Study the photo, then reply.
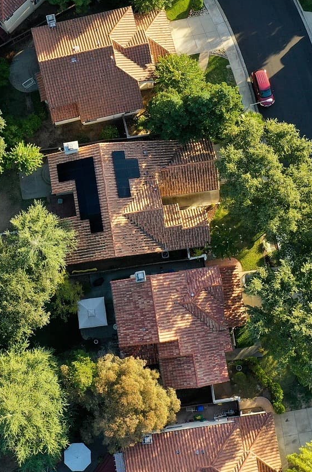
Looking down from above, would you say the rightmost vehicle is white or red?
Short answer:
red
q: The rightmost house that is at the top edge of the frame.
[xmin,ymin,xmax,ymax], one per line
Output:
[33,7,176,131]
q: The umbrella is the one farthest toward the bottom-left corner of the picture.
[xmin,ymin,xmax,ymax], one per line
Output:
[64,443,91,471]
